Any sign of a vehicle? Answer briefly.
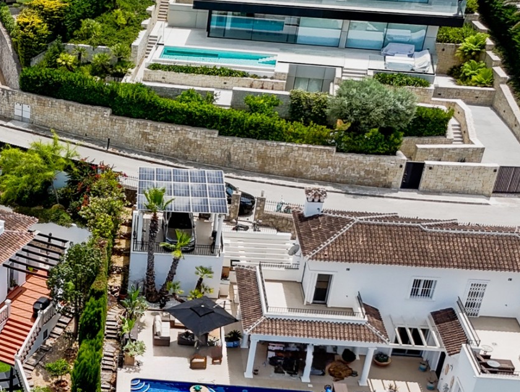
Yes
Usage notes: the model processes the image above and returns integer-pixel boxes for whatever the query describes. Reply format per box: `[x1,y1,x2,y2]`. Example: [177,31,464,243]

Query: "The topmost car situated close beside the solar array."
[224,179,282,215]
